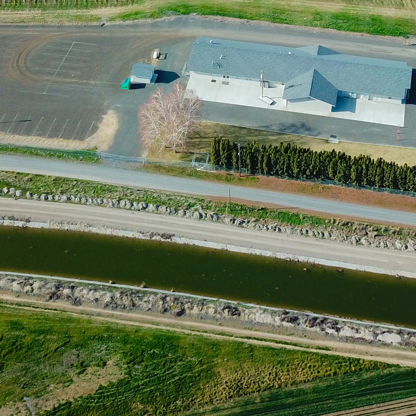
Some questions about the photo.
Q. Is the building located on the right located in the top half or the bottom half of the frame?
top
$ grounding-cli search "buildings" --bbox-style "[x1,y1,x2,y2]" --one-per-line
[188,37,416,114]
[129,61,161,87]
